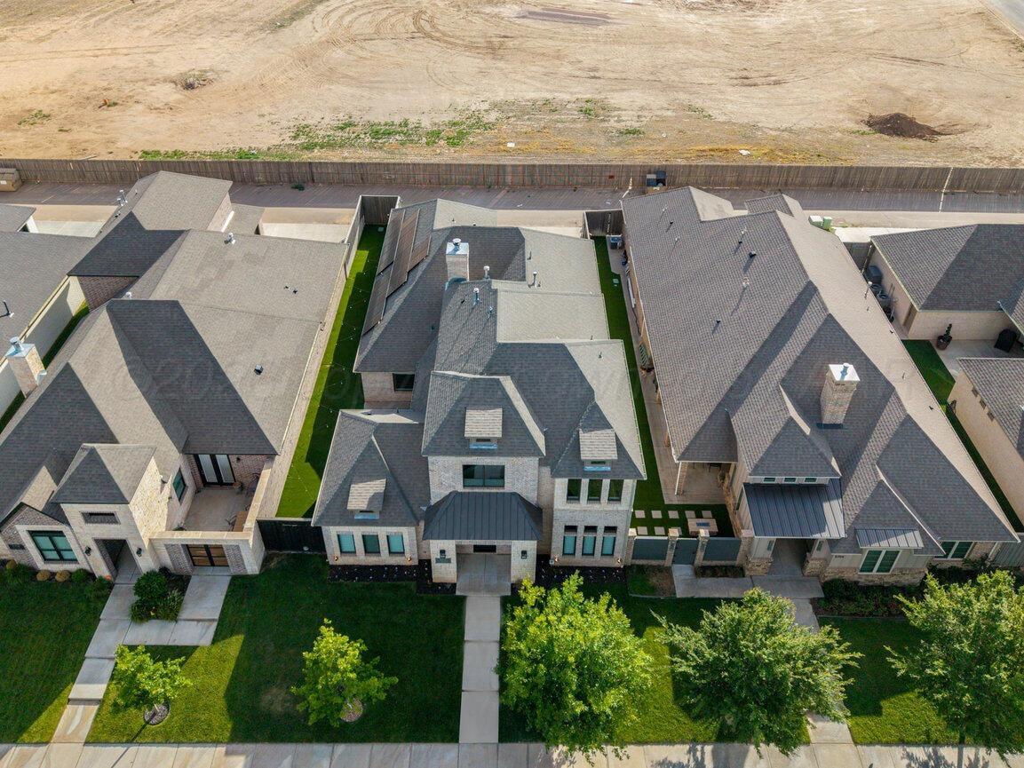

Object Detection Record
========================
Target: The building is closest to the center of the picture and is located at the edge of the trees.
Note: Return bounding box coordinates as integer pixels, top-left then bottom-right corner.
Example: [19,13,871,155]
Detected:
[310,198,650,582]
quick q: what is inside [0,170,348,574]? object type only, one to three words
house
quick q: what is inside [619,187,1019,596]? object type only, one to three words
house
